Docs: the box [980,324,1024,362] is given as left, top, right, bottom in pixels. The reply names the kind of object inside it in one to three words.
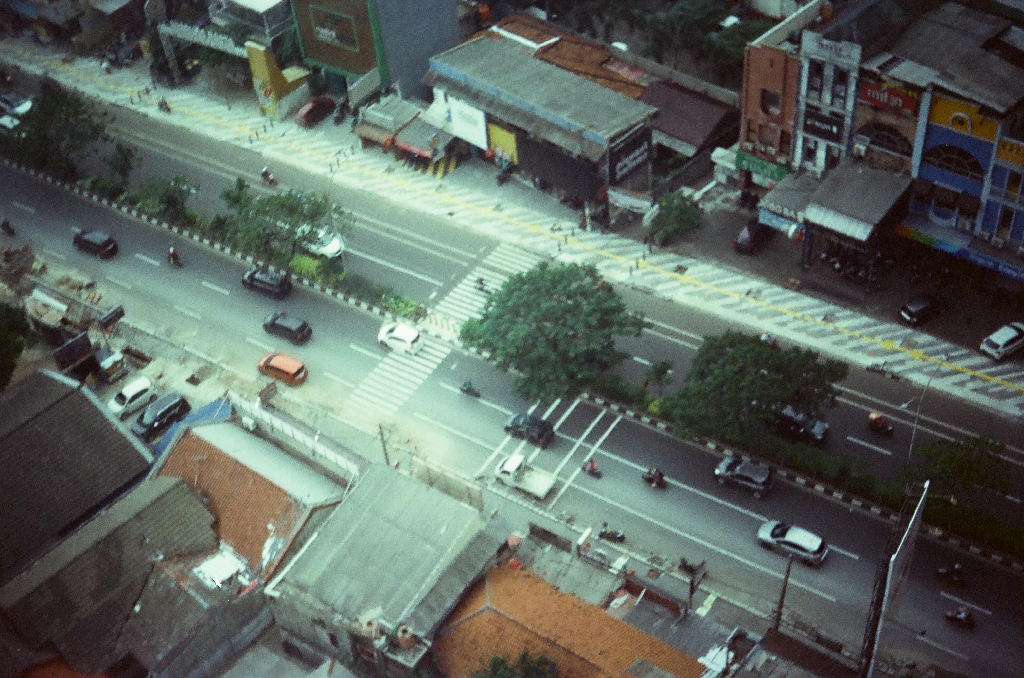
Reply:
car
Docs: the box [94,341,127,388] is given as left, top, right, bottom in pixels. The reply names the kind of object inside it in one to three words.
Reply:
truck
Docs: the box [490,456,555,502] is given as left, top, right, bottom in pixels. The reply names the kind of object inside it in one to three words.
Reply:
truck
